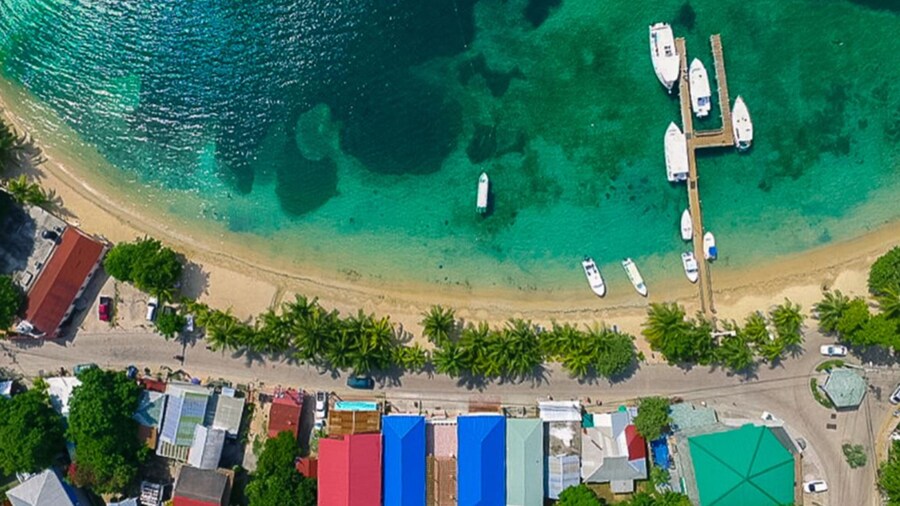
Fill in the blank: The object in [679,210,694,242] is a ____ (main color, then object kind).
white boat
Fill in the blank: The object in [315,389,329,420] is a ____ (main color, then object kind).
white vehicle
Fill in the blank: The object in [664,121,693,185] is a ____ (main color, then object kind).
white boat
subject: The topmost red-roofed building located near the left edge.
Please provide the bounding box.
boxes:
[19,227,106,338]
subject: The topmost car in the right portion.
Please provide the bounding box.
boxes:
[817,343,846,357]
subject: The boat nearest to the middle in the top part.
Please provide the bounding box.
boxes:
[476,174,489,215]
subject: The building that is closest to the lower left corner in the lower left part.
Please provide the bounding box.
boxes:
[5,464,87,506]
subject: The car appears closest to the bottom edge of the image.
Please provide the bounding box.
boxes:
[802,478,829,494]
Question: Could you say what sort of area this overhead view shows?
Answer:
residential area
